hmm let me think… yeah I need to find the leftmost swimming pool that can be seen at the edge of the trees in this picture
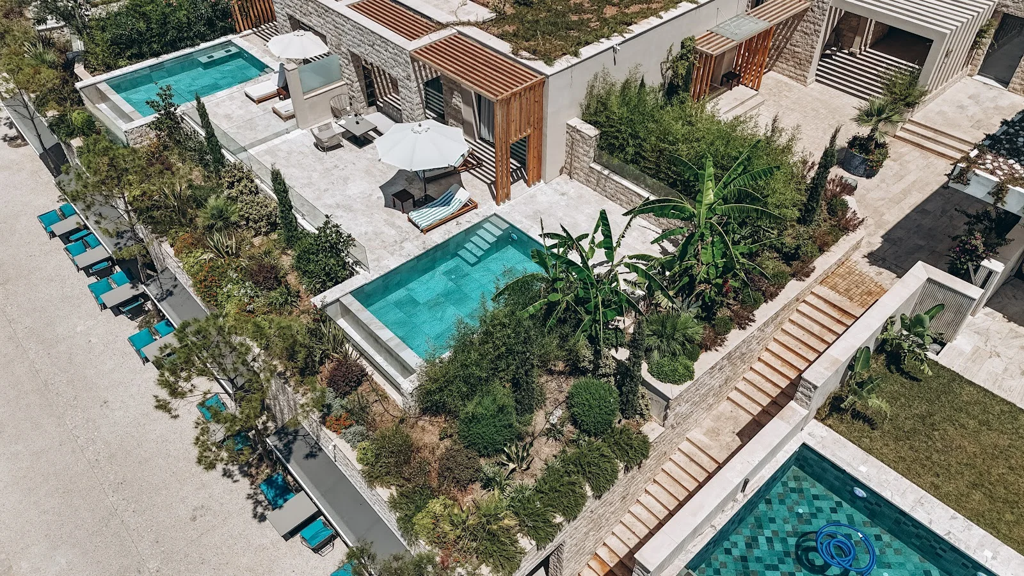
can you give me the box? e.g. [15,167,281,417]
[87,31,288,144]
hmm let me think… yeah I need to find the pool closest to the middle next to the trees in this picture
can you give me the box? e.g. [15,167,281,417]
[310,203,593,428]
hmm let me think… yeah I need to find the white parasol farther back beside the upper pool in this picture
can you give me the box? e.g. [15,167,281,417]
[264,31,334,63]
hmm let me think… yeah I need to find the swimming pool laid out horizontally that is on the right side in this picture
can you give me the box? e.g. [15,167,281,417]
[655,417,1024,576]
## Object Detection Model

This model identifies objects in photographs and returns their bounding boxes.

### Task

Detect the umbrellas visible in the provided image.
[368,118,471,207]
[264,31,334,63]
